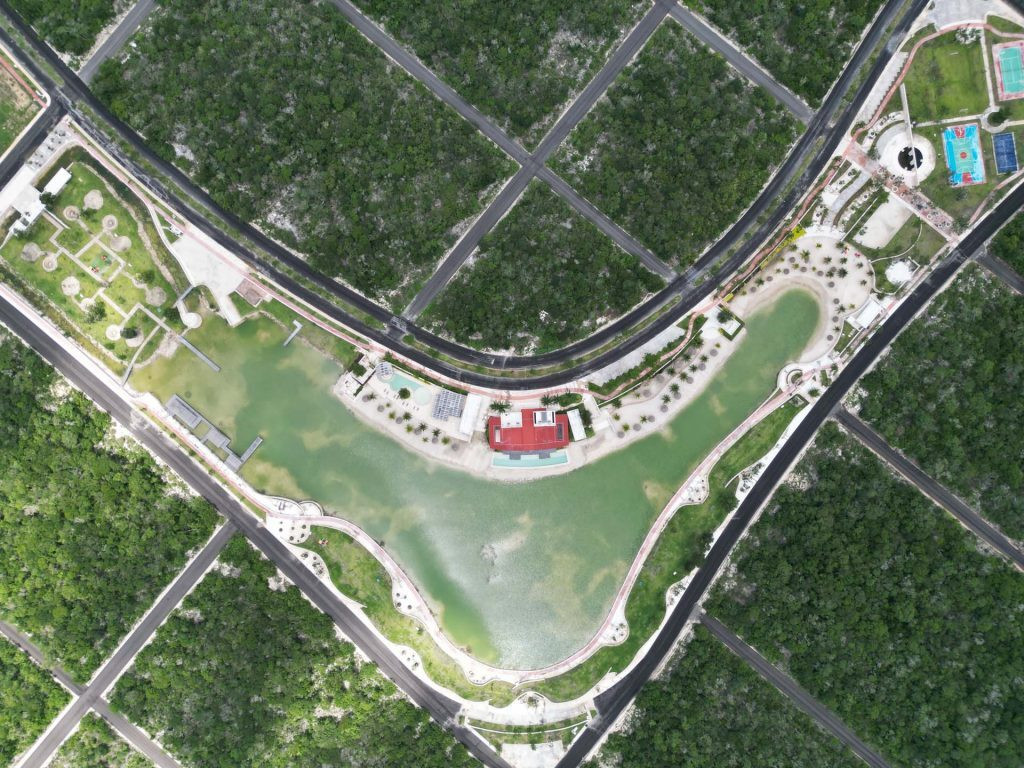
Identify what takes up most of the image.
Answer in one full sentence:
Most of the picture is covered by trees.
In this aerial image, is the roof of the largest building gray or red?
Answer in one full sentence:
The color of the roof of the largest building is red.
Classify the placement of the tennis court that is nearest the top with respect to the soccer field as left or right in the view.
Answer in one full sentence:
The tennis court that is nearest the top is to the right of the soccer field.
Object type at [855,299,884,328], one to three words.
building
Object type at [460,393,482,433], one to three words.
building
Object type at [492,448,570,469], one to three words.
swimming pool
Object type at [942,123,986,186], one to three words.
basketball court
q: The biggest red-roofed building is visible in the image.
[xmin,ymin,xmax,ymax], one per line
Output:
[489,408,569,460]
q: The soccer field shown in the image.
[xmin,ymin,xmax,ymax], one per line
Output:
[905,40,989,125]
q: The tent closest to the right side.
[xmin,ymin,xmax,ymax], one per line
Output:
[888,258,916,285]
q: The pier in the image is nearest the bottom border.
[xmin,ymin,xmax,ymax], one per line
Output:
[223,437,262,472]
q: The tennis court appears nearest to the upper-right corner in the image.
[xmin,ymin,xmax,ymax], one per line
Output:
[992,41,1024,101]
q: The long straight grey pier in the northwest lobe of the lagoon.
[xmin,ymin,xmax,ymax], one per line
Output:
[179,335,221,372]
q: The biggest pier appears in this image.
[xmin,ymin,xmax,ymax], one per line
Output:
[166,395,230,447]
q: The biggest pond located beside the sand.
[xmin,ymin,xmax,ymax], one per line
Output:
[129,289,820,671]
